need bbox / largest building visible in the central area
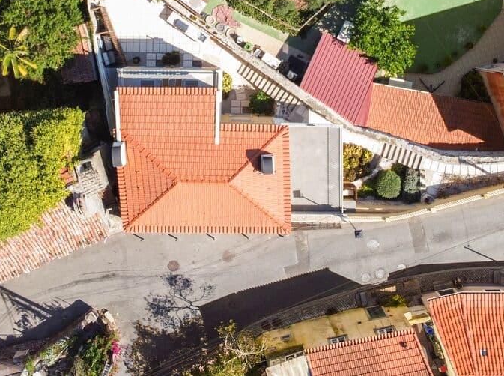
[113,70,292,242]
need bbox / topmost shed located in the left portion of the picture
[64,22,99,83]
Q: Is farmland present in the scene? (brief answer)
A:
No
